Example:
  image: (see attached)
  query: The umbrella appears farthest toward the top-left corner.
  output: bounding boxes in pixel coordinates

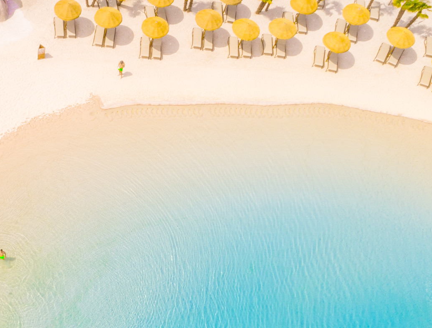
[53,1,81,30]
